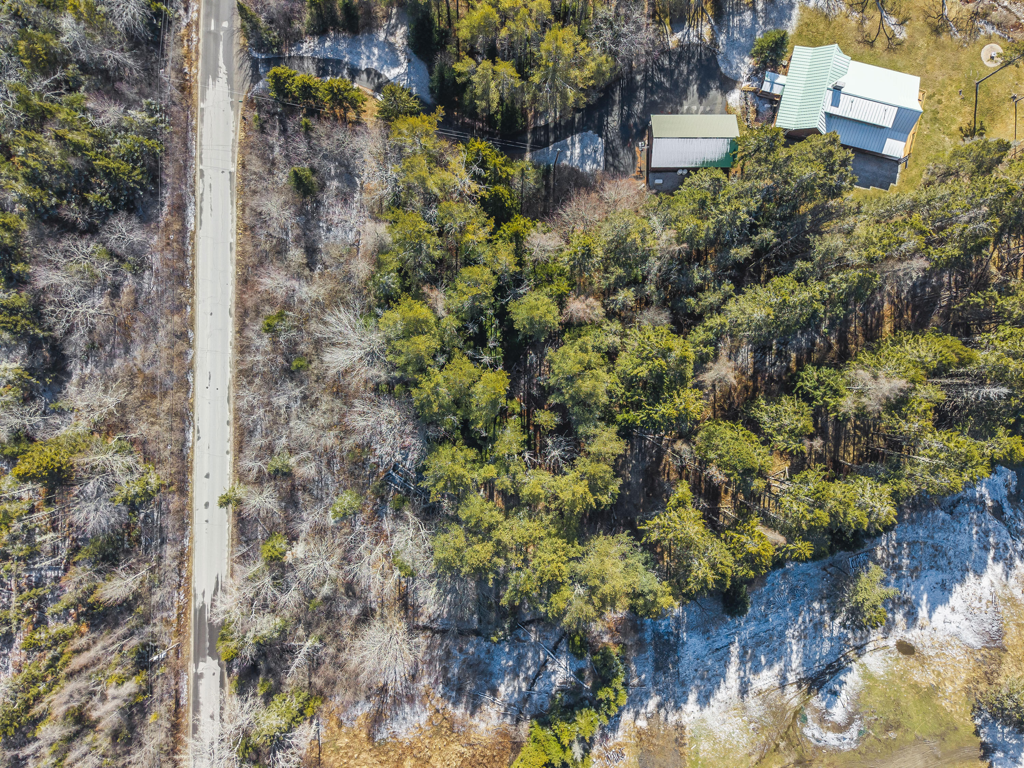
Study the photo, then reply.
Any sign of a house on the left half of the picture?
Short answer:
No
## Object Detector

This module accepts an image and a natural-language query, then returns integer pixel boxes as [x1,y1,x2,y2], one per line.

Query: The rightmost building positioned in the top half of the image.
[739,42,927,174]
